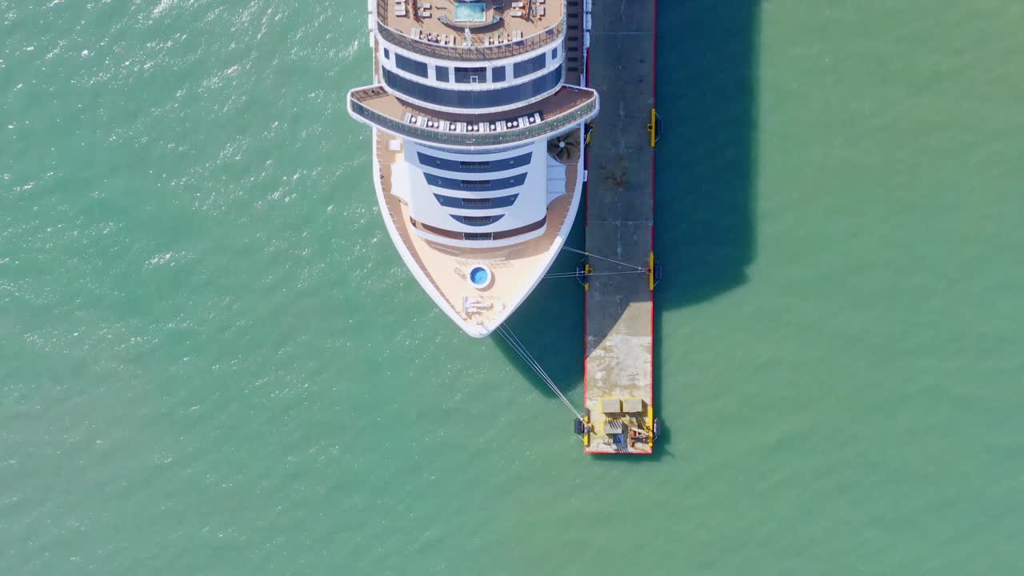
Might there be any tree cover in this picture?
No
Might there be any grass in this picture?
No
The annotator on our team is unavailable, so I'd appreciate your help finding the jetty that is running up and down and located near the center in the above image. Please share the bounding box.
[583,0,658,454]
